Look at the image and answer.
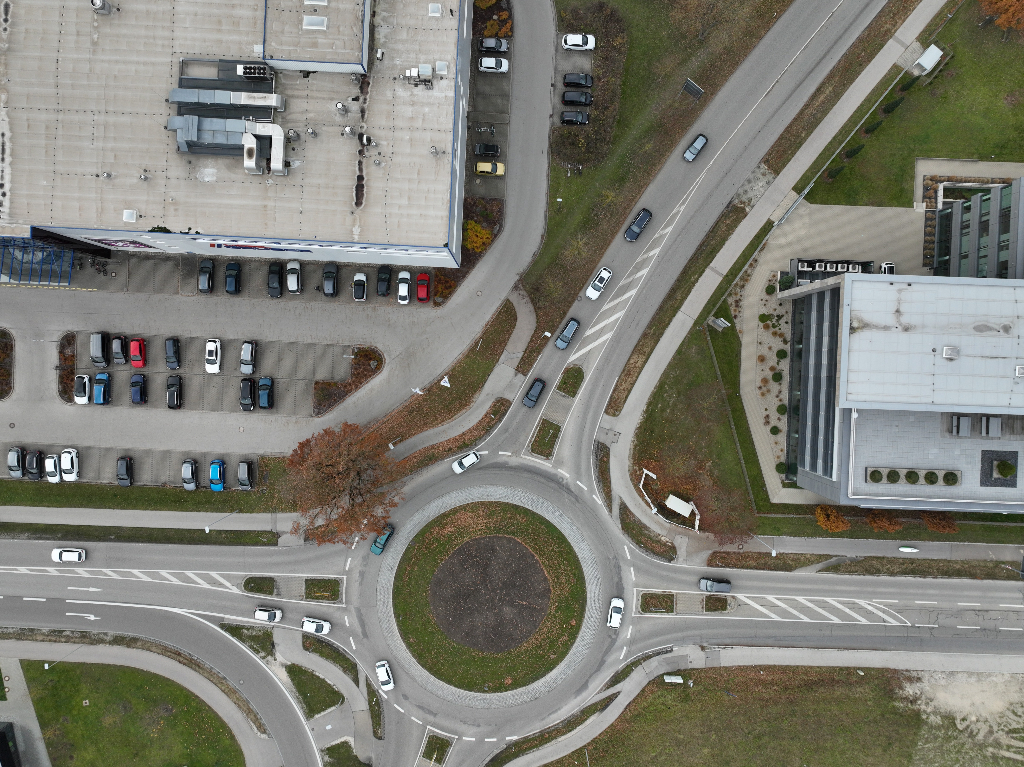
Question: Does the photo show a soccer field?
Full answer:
No, I find no soccer field anywhere in the image.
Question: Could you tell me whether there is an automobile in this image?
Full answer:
Yes, there's an automobile here.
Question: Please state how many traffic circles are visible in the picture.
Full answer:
The picture shows just 1 traffic circle.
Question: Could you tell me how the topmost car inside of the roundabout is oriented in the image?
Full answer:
What the image shows is the topmost car inside of the roundabout lying diagonally.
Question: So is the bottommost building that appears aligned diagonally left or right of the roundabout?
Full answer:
The bottommost building that appears aligned diagonally is to the right of the roundabout.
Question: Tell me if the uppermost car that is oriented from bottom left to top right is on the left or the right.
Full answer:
The uppermost car that is oriented from bottom left to top right appears in the right half of the scene.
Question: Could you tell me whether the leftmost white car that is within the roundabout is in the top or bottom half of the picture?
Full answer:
Seen from above, the leftmost white car that is within the roundabout lies in the bottom half of the view.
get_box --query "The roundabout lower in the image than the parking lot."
[342,449,637,744]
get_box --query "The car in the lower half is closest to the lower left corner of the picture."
[53,547,88,564]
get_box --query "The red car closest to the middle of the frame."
[415,273,431,303]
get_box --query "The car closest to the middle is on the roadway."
[523,377,546,408]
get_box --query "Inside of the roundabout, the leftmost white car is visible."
[375,659,395,690]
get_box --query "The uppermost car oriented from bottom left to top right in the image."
[683,133,709,164]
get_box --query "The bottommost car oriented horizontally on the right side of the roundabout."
[698,577,731,593]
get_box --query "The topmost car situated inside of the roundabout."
[452,450,480,473]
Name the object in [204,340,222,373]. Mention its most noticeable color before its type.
white car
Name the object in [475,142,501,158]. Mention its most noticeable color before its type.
black car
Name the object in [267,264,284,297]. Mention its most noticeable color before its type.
black car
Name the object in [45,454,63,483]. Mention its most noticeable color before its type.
white car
